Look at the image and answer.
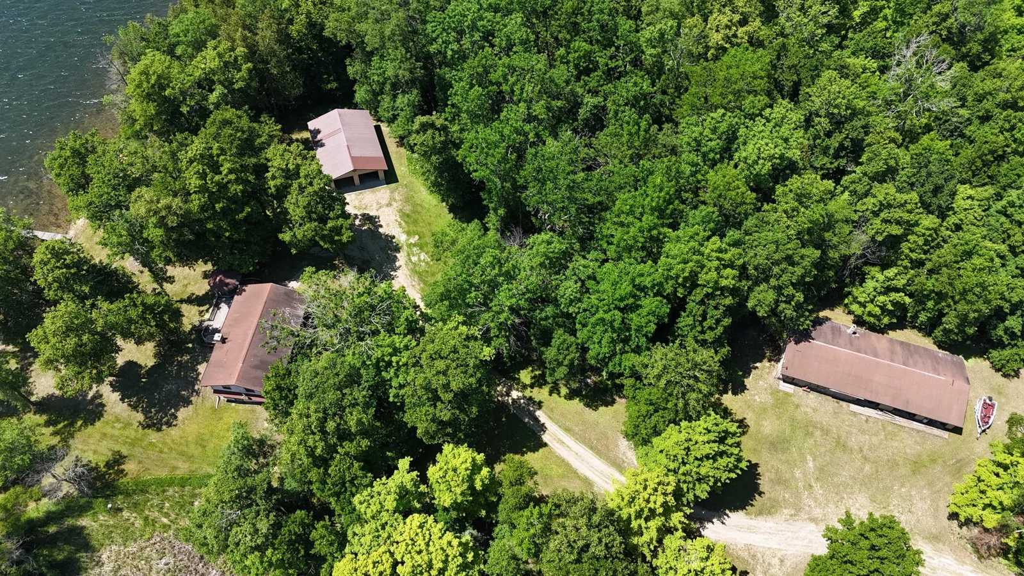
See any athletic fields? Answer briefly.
No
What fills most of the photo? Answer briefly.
trees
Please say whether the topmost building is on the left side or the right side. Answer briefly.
left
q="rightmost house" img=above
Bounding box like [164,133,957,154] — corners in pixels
[780,315,970,429]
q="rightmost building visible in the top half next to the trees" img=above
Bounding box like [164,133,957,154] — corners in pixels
[308,108,388,196]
